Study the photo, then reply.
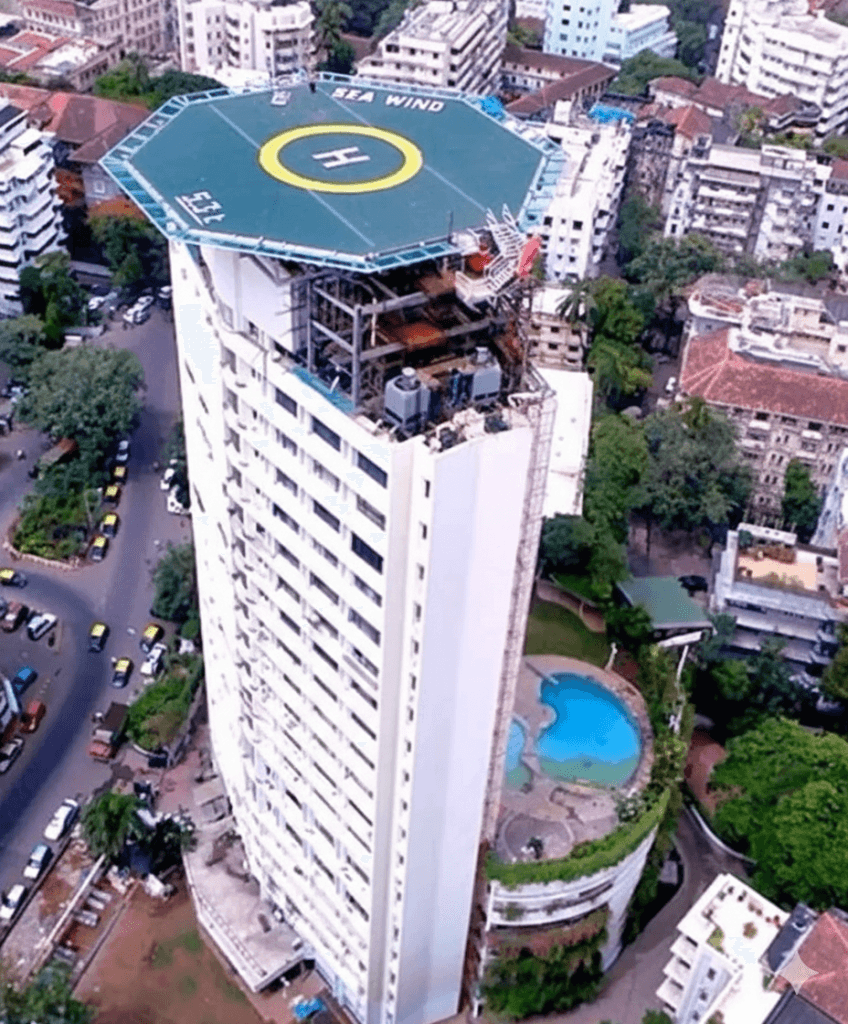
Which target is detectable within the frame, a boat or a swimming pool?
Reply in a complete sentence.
Looking from above, you can make out a swimming pool.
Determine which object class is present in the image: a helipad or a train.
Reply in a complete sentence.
Looking from above, you can make out a helipad.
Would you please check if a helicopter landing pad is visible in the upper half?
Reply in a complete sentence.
Yes, a helicopter landing pad can be seen in the upper half.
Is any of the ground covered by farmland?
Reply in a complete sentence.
No, there's no farmland in this view.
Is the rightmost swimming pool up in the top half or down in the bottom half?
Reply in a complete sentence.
You can find the rightmost swimming pool in the bottom half.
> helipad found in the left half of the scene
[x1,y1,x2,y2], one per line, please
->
[100,69,564,404]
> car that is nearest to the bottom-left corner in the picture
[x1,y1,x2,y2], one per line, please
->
[0,879,29,921]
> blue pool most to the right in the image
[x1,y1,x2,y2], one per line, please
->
[534,670,646,791]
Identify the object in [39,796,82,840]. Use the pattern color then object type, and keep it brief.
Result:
white car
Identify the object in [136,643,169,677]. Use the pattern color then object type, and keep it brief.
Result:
white car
